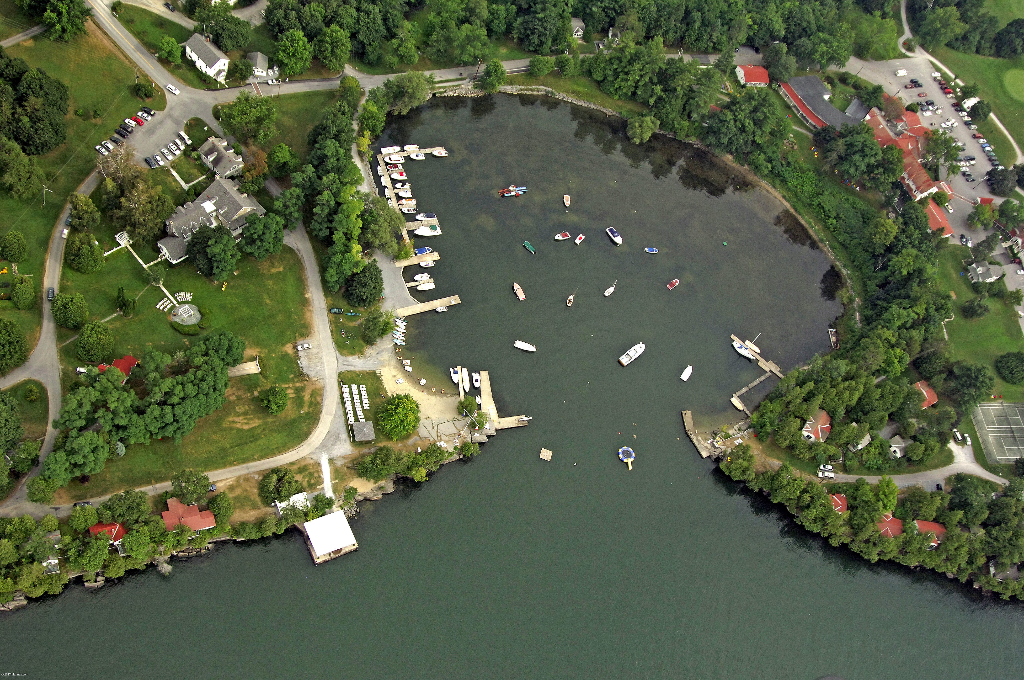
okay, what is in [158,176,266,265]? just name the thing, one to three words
house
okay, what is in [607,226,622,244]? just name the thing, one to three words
boat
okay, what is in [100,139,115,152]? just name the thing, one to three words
vehicle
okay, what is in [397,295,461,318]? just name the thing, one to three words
pier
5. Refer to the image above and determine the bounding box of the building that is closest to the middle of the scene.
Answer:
[352,421,375,444]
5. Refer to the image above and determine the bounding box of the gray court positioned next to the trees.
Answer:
[971,401,1024,464]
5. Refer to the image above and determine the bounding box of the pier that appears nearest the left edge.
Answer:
[295,510,358,565]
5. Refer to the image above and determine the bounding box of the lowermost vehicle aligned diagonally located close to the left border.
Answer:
[30,454,43,470]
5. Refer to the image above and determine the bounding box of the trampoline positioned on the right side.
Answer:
[618,446,635,470]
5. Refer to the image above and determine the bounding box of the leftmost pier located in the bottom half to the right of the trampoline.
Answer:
[681,411,712,459]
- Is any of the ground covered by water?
Yes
